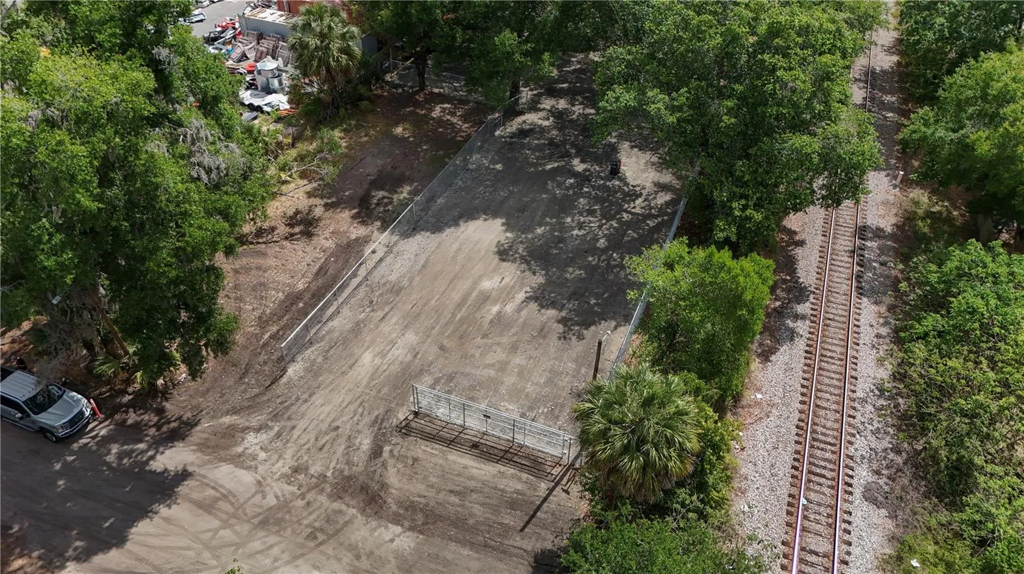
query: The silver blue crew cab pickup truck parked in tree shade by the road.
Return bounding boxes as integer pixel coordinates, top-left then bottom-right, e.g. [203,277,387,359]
[0,359,94,444]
